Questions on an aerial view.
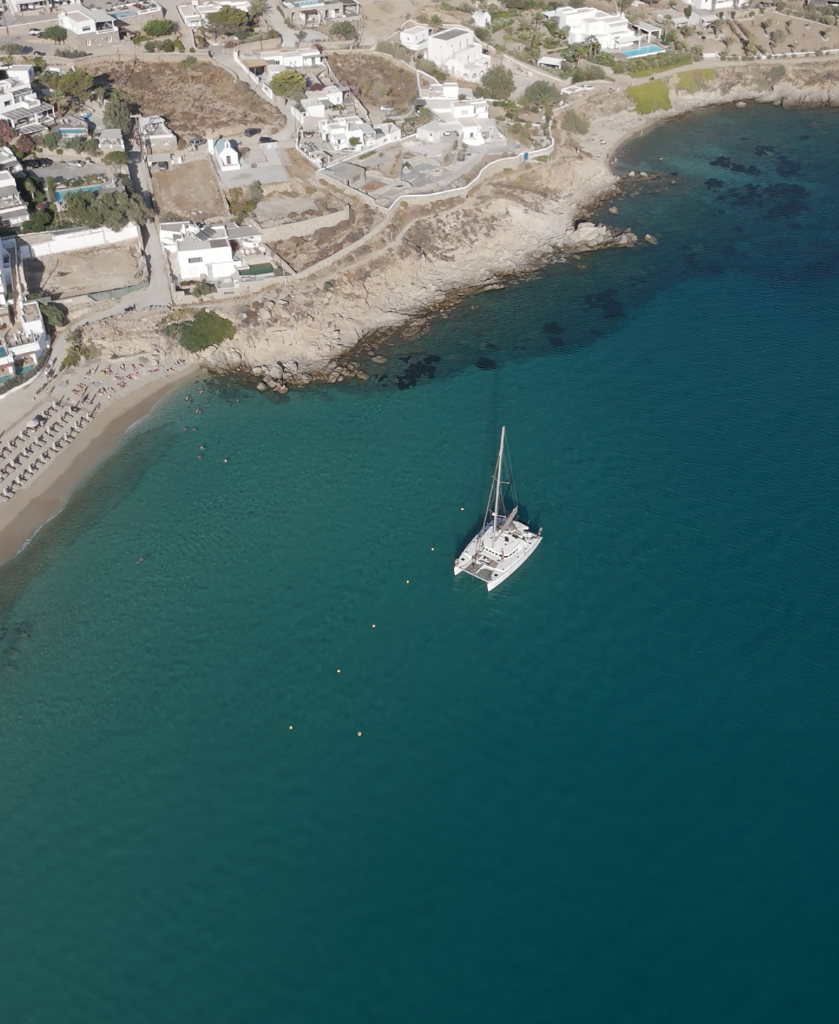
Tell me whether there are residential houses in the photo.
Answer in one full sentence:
Yes, this view includes a residential house.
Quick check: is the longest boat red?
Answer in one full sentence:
No, the longest boat is actually white.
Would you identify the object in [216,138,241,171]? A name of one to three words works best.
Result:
building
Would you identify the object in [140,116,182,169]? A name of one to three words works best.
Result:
house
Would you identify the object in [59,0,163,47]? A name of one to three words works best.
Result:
house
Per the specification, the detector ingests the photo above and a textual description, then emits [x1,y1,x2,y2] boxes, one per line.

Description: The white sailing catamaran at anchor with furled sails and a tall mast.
[455,431,546,601]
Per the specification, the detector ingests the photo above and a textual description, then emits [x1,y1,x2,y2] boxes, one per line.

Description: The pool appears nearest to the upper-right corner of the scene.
[620,45,667,57]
